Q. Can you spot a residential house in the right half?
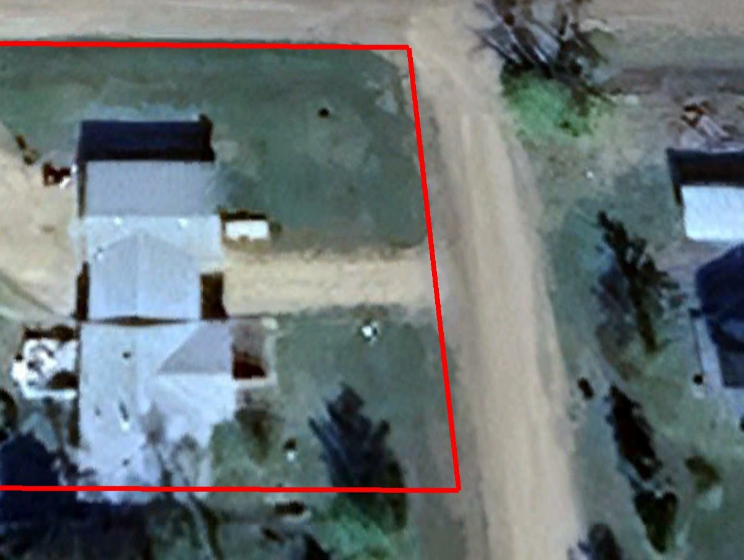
Yes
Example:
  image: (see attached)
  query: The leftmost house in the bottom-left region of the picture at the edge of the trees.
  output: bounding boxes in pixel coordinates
[79,315,237,509]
